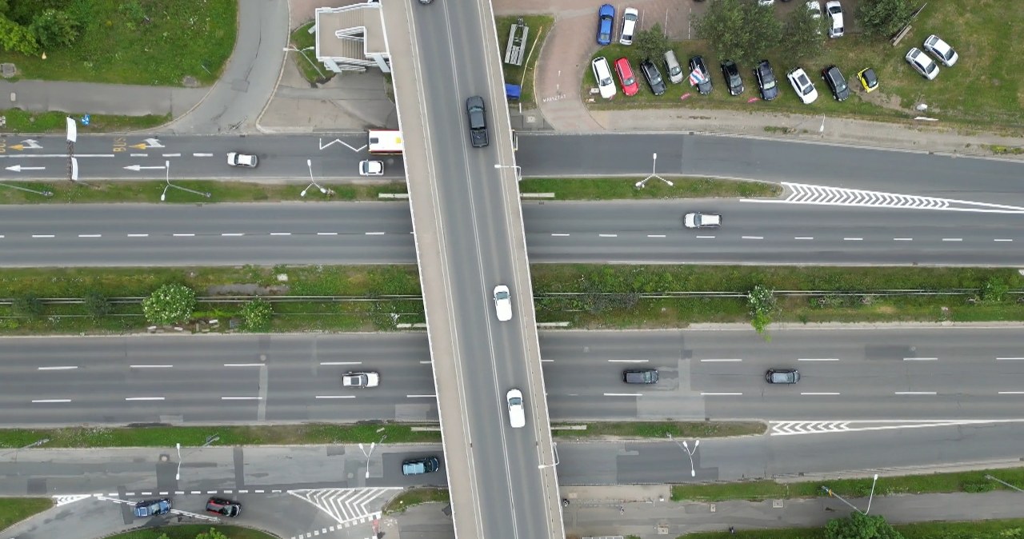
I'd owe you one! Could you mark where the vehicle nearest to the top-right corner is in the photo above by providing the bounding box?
[923,34,956,66]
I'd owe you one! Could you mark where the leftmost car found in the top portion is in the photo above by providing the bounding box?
[227,152,259,168]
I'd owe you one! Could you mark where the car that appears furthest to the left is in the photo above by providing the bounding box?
[133,497,173,518]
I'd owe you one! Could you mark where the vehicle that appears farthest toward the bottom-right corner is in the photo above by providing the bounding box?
[765,368,799,385]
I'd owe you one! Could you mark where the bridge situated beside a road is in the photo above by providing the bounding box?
[378,0,585,539]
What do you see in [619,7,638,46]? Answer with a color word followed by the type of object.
white car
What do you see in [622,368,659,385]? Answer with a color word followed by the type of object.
gray car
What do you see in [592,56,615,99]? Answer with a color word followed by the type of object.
white car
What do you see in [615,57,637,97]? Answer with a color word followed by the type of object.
red car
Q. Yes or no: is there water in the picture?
No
